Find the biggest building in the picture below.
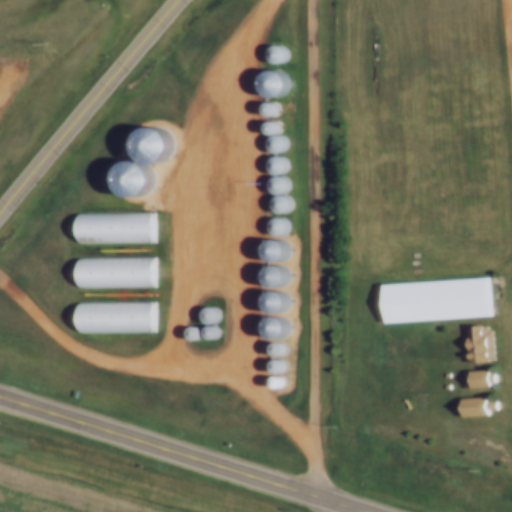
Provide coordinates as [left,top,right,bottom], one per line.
[380,276,496,325]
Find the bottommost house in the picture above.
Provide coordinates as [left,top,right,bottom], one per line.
[458,398,498,418]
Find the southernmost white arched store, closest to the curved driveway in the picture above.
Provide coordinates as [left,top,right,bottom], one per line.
[73,302,159,334]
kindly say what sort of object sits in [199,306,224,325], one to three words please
silo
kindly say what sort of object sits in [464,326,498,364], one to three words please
house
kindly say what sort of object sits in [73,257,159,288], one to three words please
building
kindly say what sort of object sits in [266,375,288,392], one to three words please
silo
